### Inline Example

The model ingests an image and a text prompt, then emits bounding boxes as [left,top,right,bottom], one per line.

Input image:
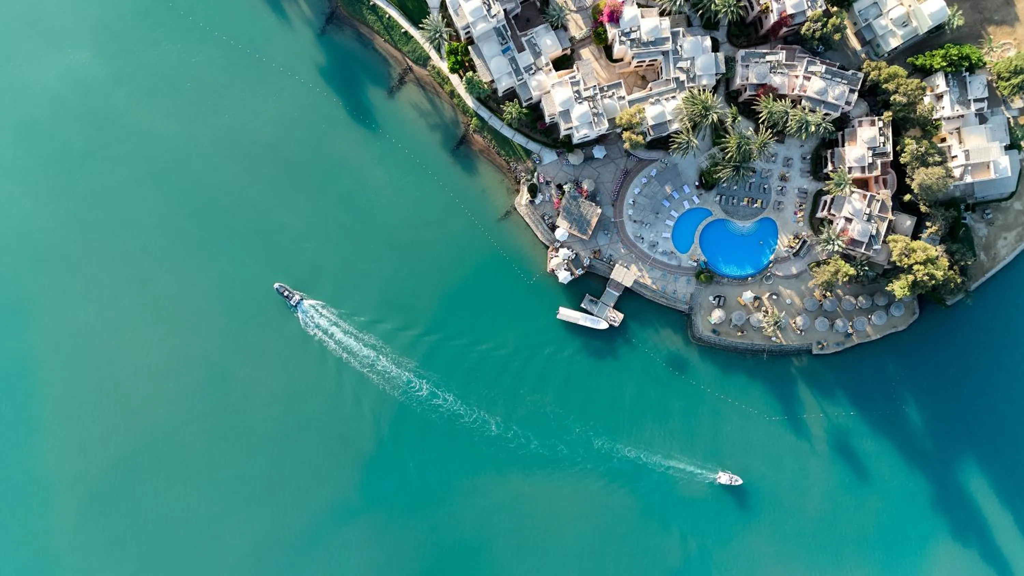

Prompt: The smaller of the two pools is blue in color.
[670,206,714,255]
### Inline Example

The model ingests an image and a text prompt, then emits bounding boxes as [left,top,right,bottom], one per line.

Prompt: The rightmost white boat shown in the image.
[716,472,743,486]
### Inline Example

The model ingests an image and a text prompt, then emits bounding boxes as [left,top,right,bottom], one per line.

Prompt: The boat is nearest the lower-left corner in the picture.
[273,285,299,305]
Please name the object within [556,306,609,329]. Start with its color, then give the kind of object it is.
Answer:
white boat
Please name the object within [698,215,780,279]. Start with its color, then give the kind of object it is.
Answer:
blue swimming pool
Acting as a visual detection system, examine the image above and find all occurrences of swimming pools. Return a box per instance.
[698,215,780,279]
[670,206,714,255]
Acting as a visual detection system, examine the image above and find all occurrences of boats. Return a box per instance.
[273,285,299,305]
[556,306,609,329]
[716,472,743,486]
